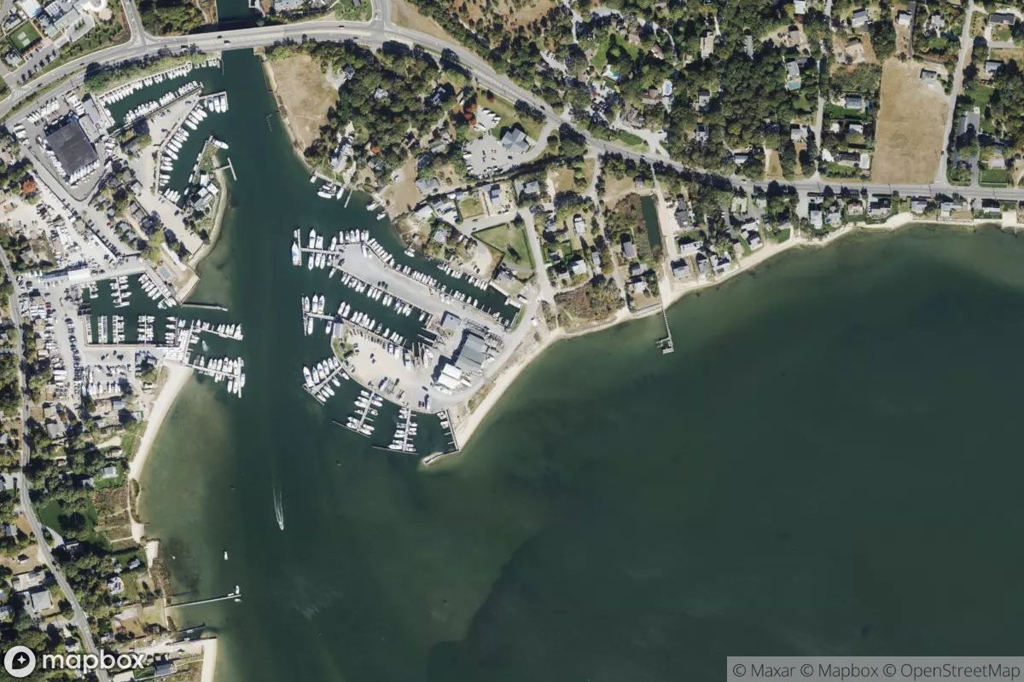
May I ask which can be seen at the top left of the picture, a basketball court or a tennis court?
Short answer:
tennis court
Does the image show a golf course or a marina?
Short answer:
marina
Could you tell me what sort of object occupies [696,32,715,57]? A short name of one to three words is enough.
house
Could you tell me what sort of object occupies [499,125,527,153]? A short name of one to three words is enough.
building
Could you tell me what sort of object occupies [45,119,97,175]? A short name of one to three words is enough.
shed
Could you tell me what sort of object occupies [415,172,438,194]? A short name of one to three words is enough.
house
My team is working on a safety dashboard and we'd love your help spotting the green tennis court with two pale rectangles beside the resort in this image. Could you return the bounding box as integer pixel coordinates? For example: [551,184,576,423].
[8,20,41,51]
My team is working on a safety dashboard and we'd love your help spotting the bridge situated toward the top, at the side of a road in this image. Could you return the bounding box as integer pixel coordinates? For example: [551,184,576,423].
[210,26,263,50]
